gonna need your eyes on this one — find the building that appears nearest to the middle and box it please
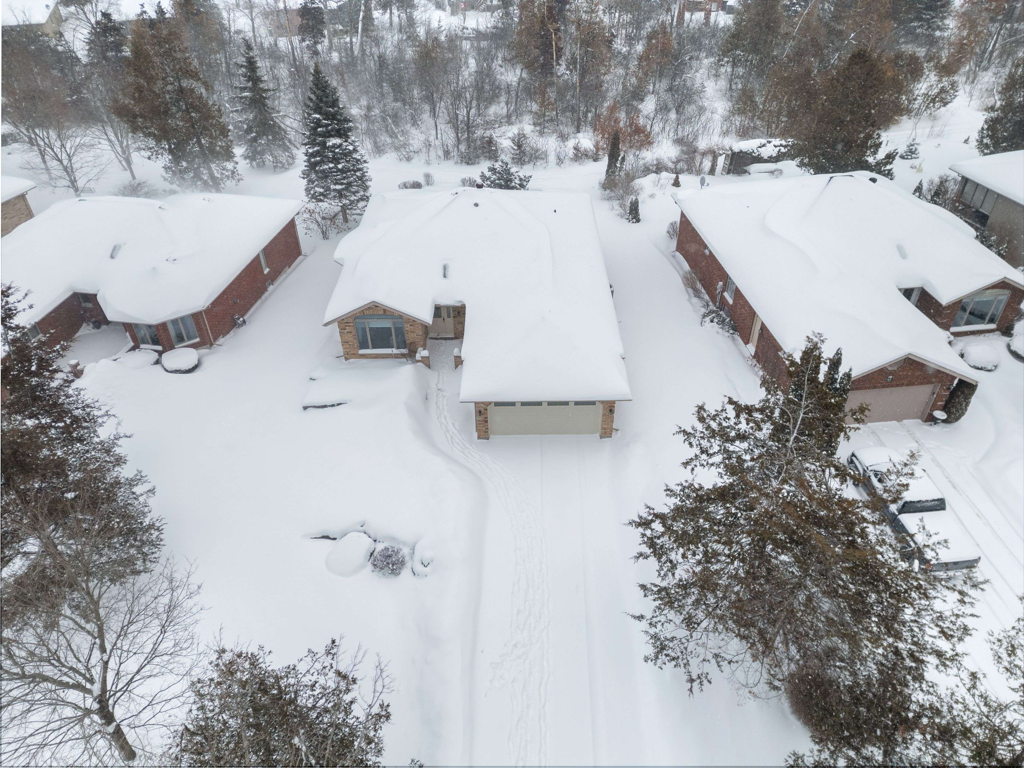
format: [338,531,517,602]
[323,176,634,441]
